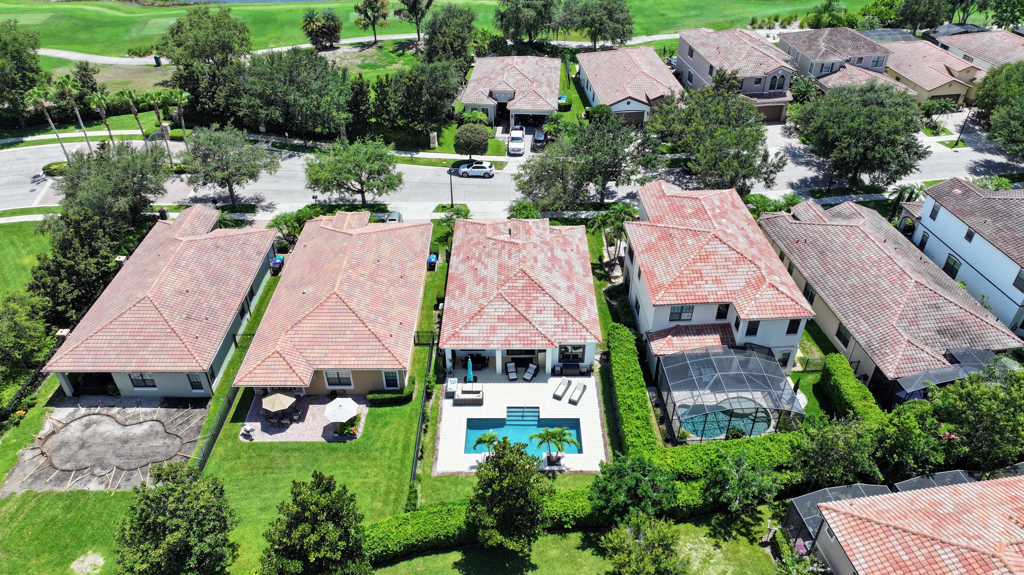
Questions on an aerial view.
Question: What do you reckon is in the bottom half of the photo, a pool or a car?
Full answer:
It is a pool that can be seen in the bottom half of the photo.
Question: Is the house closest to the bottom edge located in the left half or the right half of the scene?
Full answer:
You can find the house closest to the bottom edge on the right side of the picture.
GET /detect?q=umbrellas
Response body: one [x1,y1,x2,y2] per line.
[464,359,476,385]
[257,388,300,413]
[320,394,363,426]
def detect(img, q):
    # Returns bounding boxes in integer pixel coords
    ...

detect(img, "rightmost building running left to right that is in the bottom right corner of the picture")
[814,474,1024,575]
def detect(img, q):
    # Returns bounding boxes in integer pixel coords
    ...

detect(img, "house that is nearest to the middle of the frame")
[438,217,603,371]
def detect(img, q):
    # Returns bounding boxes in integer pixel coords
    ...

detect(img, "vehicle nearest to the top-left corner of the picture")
[384,207,402,222]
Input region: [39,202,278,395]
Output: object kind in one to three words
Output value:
house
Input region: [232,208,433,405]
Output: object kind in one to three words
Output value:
house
